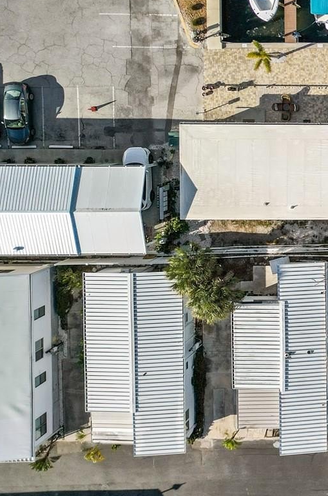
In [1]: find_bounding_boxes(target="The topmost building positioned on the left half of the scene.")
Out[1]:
[0,164,166,257]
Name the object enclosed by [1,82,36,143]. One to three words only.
car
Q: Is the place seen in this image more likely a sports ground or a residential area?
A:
residential area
